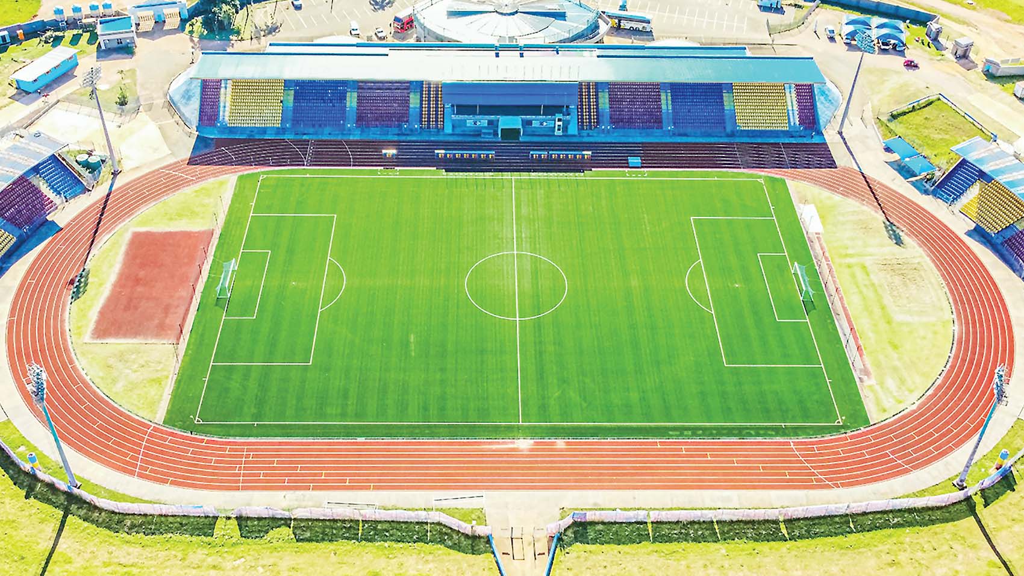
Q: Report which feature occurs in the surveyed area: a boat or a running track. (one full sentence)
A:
I can see a running track in this picture.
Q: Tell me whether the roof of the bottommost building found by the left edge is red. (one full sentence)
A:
No, from above the roof of the bottommost building found by the left edge looks white.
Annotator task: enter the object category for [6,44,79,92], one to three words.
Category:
building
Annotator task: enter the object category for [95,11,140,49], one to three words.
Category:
house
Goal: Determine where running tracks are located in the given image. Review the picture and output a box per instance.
[7,139,1014,490]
